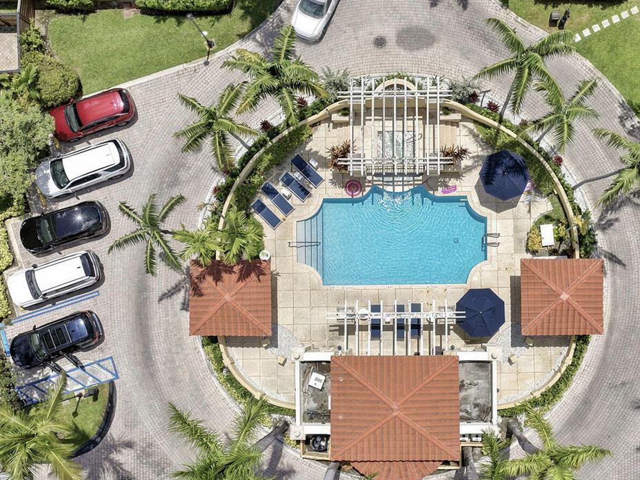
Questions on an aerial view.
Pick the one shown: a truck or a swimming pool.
swimming pool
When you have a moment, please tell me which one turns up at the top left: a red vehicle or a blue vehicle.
red vehicle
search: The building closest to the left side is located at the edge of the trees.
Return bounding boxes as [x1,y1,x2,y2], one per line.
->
[187,257,277,338]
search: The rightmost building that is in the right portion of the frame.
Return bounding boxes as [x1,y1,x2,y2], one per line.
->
[516,257,607,337]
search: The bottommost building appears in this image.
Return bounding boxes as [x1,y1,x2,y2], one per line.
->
[293,349,498,480]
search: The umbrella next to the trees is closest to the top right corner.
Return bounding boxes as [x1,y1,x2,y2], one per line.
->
[477,151,530,204]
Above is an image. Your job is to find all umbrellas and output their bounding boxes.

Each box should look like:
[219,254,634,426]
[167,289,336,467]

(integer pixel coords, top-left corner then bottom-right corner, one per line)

[477,151,530,204]
[455,288,503,337]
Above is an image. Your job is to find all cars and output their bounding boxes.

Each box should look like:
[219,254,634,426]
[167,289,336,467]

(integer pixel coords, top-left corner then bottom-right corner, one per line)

[38,141,131,197]
[19,201,110,255]
[288,0,344,50]
[11,311,105,380]
[47,90,137,145]
[6,251,105,307]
